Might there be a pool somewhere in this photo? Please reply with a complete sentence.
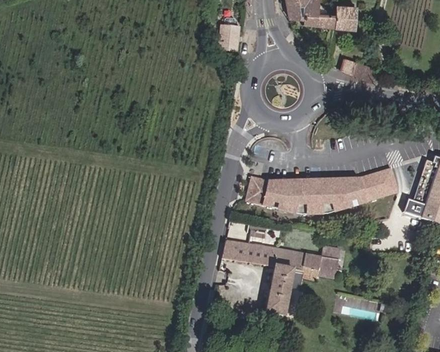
Yes, the frame does contain a pool.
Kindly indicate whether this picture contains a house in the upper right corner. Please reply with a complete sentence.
Yes, looking in the upper right corner, one can make out a house.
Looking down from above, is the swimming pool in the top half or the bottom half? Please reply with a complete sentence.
The swimming pool sits in the bottom half of the picture.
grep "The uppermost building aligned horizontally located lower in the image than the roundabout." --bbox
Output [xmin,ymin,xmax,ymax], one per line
[263,168,398,214]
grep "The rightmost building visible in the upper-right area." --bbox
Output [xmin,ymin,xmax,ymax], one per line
[341,59,378,87]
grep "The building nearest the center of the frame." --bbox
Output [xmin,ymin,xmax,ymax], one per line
[246,174,266,204]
